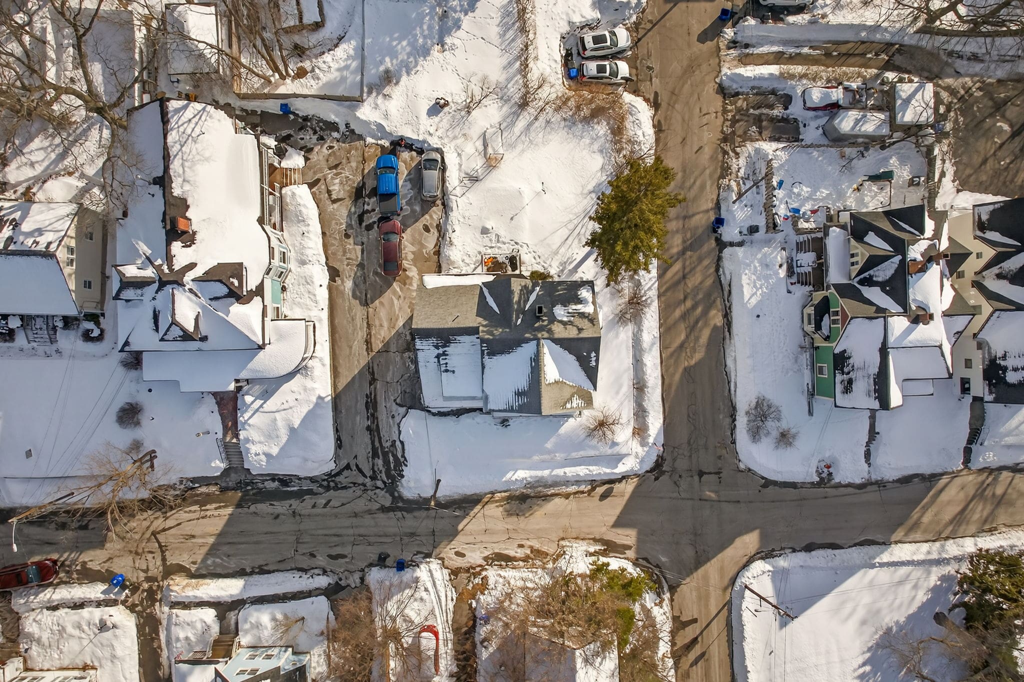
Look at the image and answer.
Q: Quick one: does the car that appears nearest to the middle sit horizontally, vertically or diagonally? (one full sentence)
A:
The car that appears nearest to the middle is laid out vertically.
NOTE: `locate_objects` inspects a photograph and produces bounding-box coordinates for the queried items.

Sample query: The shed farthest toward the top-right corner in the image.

[889,82,935,127]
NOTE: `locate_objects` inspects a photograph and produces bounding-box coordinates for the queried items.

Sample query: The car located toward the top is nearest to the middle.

[376,220,403,277]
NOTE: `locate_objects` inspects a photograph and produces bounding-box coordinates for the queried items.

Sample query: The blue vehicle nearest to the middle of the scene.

[371,152,399,220]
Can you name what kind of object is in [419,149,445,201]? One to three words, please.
car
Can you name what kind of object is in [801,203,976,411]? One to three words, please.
building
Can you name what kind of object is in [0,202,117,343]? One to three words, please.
house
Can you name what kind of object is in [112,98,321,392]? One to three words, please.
house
